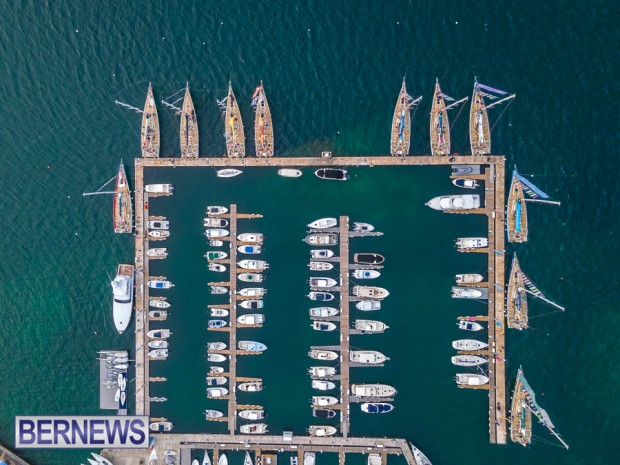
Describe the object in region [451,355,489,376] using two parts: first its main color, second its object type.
white boat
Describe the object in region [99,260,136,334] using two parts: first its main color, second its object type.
white boat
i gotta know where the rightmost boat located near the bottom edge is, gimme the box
[504,366,564,444]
